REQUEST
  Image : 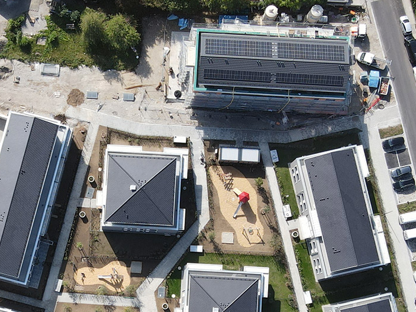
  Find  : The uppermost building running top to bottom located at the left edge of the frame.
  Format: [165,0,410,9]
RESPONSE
[0,111,75,285]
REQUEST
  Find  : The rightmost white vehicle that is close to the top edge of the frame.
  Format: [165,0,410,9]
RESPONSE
[397,16,412,38]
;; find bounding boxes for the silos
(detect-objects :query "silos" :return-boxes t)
[258,3,277,23]
[302,4,322,26]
